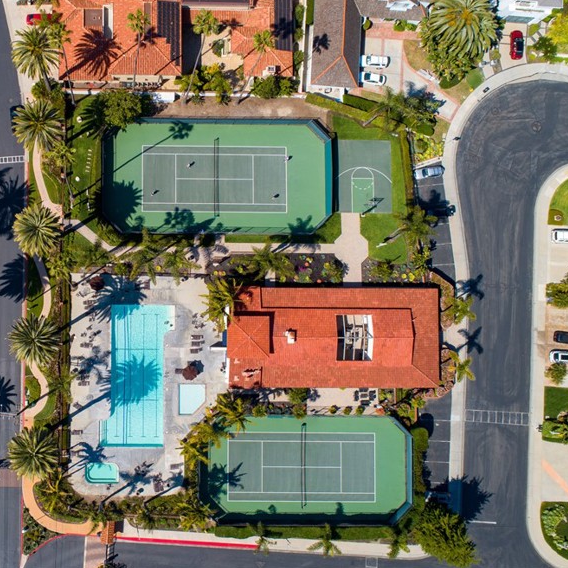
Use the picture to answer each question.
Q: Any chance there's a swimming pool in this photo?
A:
Yes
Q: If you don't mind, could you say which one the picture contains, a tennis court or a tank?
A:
tennis court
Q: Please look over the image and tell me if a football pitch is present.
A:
No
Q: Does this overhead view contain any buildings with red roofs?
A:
Yes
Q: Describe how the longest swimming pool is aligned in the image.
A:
vertically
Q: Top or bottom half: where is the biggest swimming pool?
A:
bottom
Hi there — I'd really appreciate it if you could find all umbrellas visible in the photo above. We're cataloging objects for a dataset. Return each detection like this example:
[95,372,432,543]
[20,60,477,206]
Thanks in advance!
[182,365,197,380]
[91,278,104,291]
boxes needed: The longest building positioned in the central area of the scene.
[208,287,449,388]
